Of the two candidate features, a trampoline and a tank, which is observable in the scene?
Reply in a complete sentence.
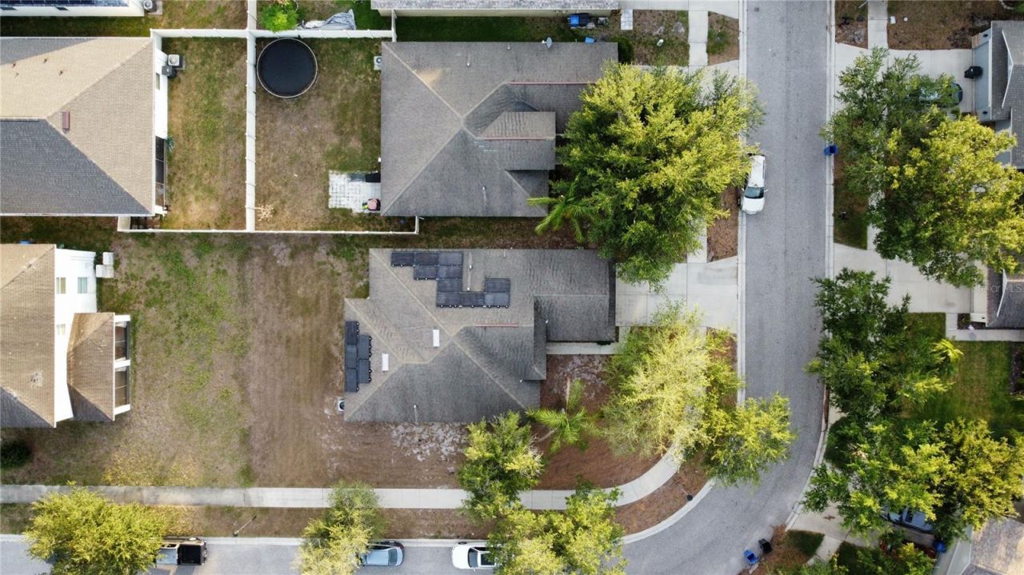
It is a trampoline that can be seen here.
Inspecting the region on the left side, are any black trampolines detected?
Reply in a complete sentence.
Yes, you'll find a black trampoline on the left side.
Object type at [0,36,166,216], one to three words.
house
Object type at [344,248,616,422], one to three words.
house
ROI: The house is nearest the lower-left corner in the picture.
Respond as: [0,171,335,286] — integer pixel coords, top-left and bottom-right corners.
[0,243,130,427]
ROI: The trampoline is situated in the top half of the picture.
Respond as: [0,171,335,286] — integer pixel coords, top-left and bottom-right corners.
[258,39,319,100]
